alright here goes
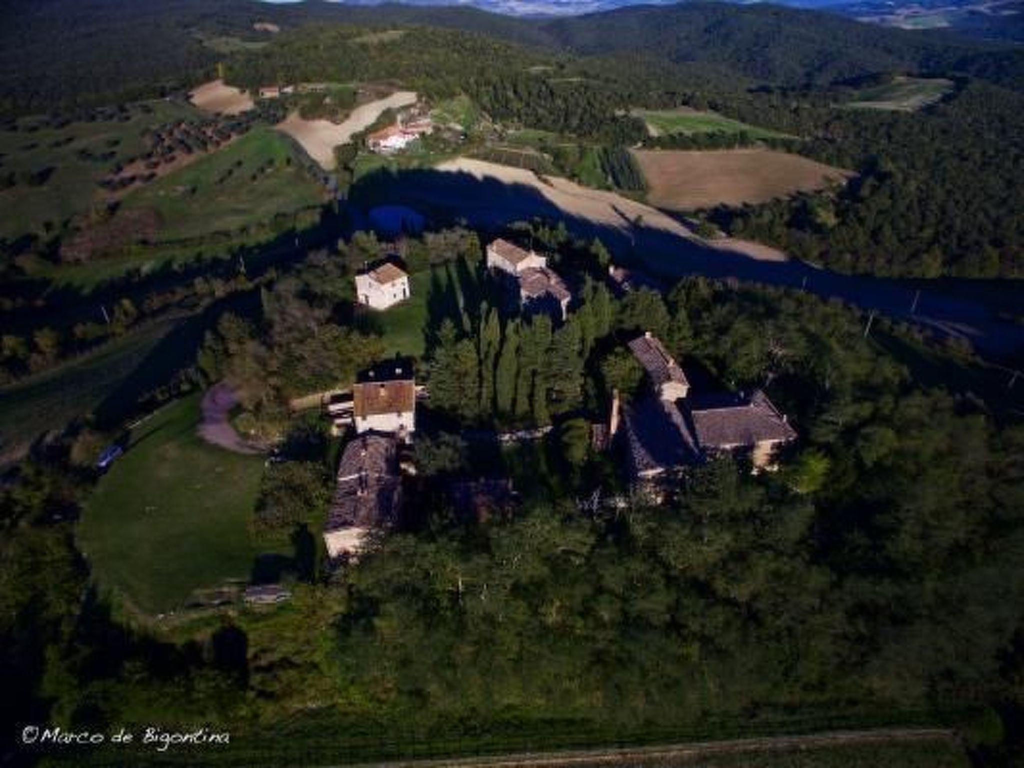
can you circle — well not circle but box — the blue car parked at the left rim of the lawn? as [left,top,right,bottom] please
[93,448,125,469]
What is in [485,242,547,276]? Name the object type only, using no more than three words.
house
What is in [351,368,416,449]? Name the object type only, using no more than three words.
house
